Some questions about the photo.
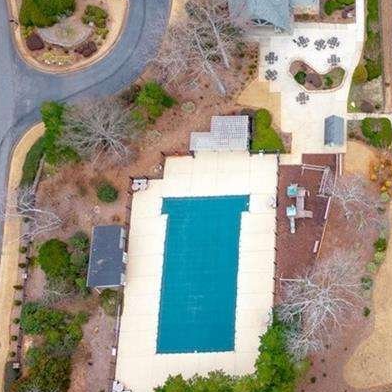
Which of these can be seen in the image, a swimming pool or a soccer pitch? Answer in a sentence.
Looking from above, you can make out a swimming pool.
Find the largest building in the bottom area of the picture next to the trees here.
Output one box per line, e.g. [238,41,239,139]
[86,226,131,287]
